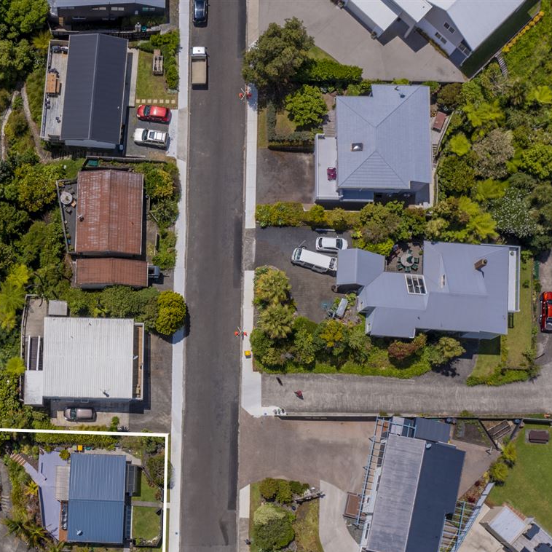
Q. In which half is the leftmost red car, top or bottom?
top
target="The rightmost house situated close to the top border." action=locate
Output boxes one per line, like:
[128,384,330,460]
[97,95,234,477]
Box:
[417,0,522,66]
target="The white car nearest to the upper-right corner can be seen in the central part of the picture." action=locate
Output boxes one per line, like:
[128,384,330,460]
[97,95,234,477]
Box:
[312,234,349,252]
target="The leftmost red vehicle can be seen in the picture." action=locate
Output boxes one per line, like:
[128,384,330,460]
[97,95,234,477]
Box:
[136,103,171,122]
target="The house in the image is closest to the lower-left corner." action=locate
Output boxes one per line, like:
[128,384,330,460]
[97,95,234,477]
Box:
[54,452,136,544]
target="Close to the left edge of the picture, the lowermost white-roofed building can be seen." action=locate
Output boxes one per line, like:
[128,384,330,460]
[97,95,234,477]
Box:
[24,316,144,405]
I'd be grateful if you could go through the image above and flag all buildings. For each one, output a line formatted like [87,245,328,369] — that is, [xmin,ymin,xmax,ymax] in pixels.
[417,0,522,66]
[75,258,149,286]
[480,501,529,546]
[313,83,455,201]
[340,0,400,35]
[54,452,136,544]
[358,417,465,552]
[47,0,166,35]
[355,240,521,338]
[74,170,144,254]
[24,316,144,405]
[40,32,129,149]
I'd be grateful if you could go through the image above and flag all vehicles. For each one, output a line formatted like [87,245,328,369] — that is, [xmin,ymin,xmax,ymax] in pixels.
[189,44,208,90]
[132,126,170,148]
[192,0,209,25]
[312,234,349,252]
[64,405,96,423]
[136,103,171,122]
[293,247,336,274]
[537,290,552,334]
